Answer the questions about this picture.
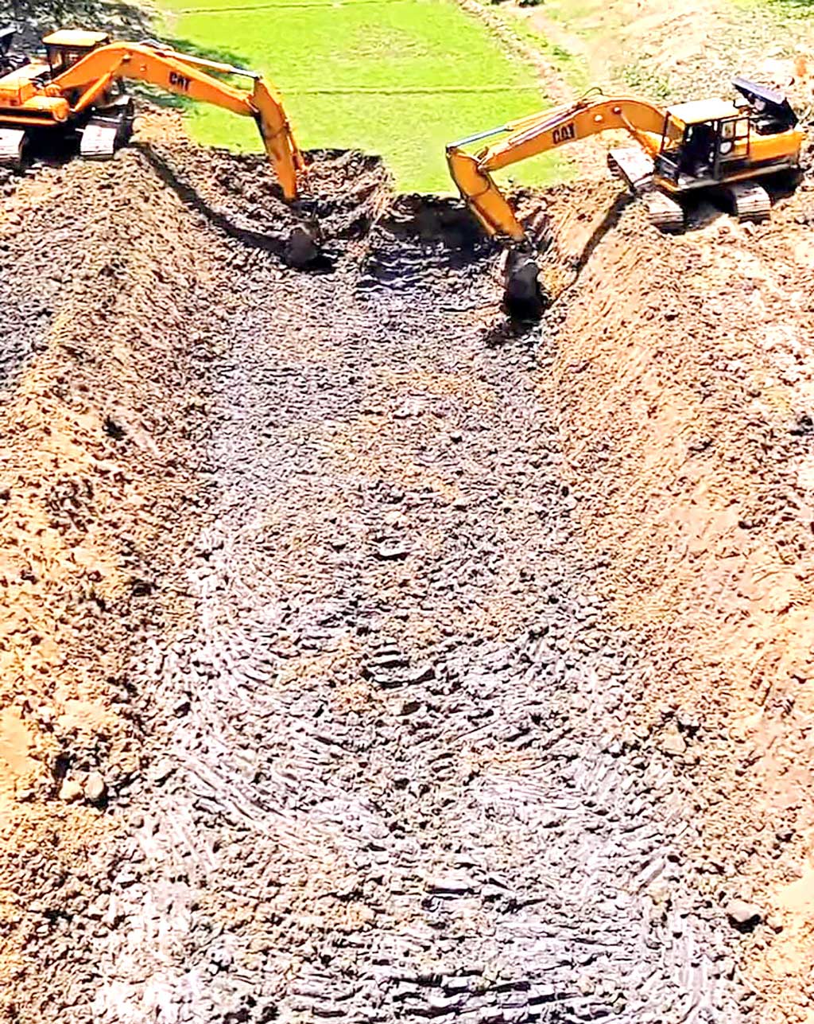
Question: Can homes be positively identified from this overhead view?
No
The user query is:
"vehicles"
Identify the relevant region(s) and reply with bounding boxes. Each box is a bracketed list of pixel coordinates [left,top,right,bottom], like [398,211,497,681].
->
[0,19,325,260]
[443,73,801,316]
